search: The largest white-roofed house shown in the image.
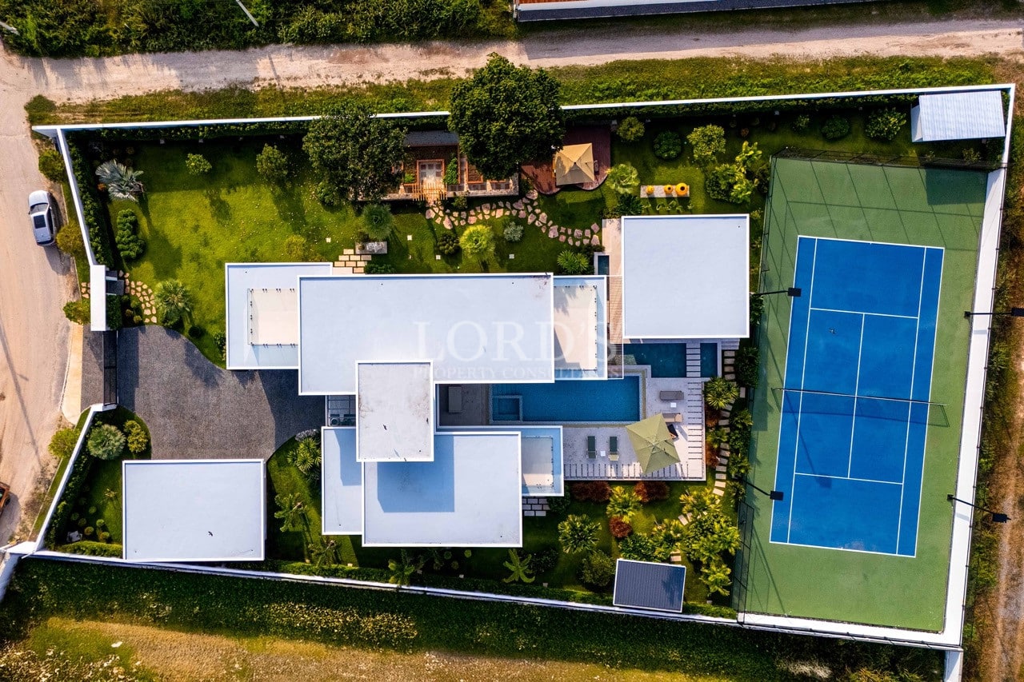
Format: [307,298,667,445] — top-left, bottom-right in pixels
[226,263,607,547]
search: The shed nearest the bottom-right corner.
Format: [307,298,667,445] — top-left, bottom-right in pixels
[613,558,687,613]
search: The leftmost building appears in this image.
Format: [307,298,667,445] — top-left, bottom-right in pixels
[122,458,269,562]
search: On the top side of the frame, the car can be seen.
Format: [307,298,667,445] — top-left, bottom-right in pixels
[24,188,62,246]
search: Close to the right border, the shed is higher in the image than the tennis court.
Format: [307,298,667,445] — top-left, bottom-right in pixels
[905,91,1006,146]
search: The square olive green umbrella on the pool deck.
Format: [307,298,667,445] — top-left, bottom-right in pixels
[626,413,680,475]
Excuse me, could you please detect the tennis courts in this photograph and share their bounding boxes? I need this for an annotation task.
[738,158,984,632]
